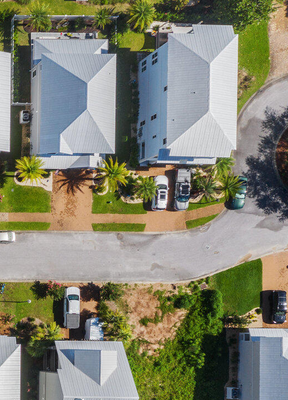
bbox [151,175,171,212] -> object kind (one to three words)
car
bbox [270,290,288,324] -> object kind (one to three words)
car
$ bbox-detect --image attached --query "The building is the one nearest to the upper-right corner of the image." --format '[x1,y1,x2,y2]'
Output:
[129,24,239,167]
